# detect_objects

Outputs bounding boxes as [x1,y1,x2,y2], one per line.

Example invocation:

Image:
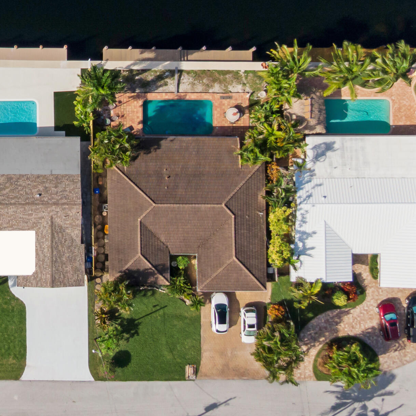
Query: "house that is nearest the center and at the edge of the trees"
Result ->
[107,137,268,292]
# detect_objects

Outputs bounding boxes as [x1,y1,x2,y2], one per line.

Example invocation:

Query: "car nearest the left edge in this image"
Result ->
[209,292,231,335]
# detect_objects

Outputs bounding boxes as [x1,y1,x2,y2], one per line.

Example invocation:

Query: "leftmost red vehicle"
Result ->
[376,301,401,342]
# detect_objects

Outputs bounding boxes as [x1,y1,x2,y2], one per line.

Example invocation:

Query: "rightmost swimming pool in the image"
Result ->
[324,96,393,135]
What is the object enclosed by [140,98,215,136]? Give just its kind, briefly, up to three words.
swimming pool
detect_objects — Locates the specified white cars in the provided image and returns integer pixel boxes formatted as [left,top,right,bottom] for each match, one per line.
[209,292,231,335]
[239,306,259,344]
